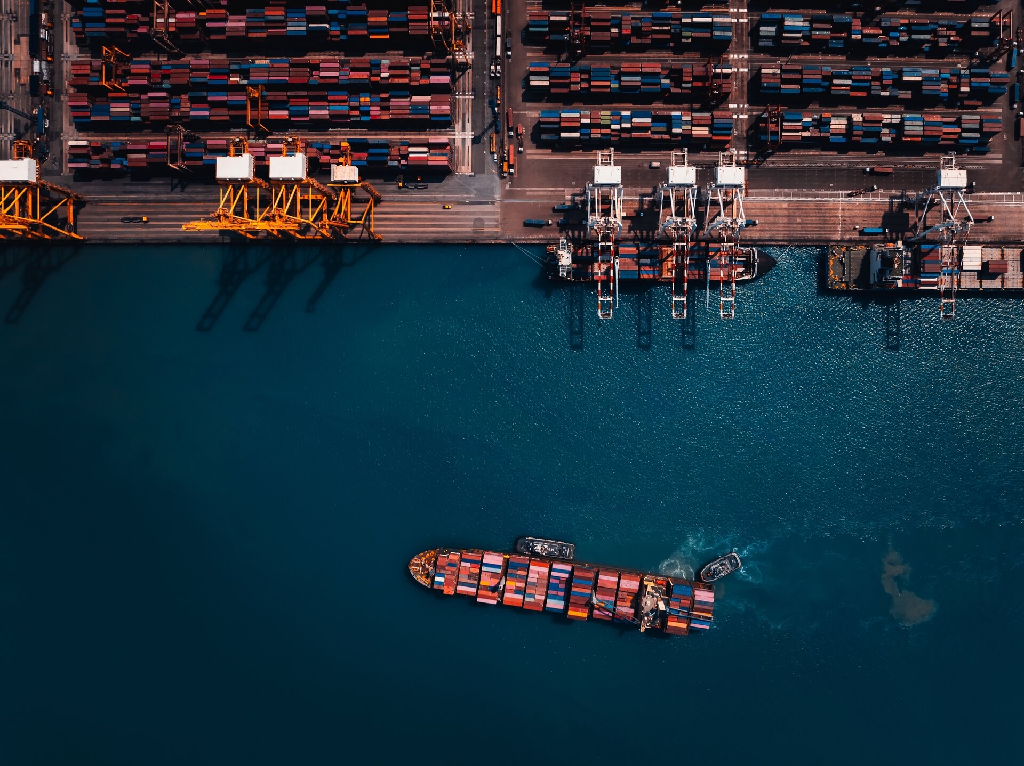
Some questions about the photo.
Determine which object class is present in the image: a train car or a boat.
boat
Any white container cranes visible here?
Yes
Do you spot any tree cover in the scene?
No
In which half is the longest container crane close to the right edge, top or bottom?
top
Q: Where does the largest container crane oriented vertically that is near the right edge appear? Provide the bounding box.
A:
[894,145,977,320]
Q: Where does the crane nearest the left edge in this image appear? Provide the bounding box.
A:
[0,144,88,242]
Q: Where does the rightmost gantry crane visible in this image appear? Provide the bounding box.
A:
[975,9,1014,61]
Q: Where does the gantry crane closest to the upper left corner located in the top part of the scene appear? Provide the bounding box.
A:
[101,46,138,95]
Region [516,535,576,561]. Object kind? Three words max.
boat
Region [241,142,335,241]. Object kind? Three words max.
container crane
